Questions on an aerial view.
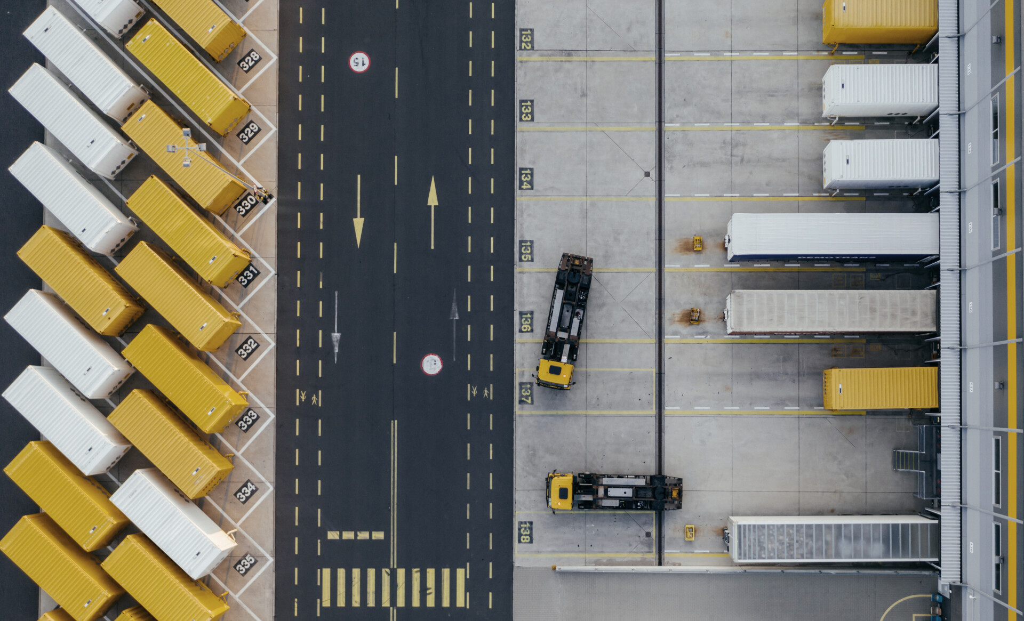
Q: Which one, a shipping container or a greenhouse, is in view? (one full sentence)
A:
Of the two, only a shipping container appears.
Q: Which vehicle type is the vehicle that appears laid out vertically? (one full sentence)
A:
Looking closely, the vehicle that appears laid out vertically is a truck.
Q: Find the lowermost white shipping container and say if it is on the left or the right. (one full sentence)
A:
The lowermost white shipping container appears in the left half of the scene.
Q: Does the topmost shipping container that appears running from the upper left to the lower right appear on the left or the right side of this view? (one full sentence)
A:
The topmost shipping container that appears running from the upper left to the lower right is on the left side of the image.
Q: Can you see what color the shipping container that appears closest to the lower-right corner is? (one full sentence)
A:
The shipping container that appears closest to the lower-right corner looks yellow in the image.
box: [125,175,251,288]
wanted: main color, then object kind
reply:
yellow shipping container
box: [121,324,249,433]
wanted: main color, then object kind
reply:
yellow shipping container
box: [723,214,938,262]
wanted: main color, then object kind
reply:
white trailer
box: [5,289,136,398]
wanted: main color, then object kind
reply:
white shipping container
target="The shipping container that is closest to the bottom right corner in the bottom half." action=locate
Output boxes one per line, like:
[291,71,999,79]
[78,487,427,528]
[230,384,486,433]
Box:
[823,368,939,411]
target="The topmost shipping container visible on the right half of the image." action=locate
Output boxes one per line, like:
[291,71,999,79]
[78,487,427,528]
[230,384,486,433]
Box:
[822,0,938,59]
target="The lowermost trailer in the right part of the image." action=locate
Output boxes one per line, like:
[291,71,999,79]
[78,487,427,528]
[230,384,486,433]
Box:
[725,517,940,563]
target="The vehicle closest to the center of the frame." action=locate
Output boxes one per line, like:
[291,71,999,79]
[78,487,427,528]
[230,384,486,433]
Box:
[530,255,593,391]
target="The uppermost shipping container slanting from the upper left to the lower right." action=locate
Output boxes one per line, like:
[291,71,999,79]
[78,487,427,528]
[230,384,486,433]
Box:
[153,0,246,62]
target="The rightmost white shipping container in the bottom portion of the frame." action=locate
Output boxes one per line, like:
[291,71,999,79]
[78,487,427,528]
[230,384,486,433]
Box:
[110,468,237,580]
